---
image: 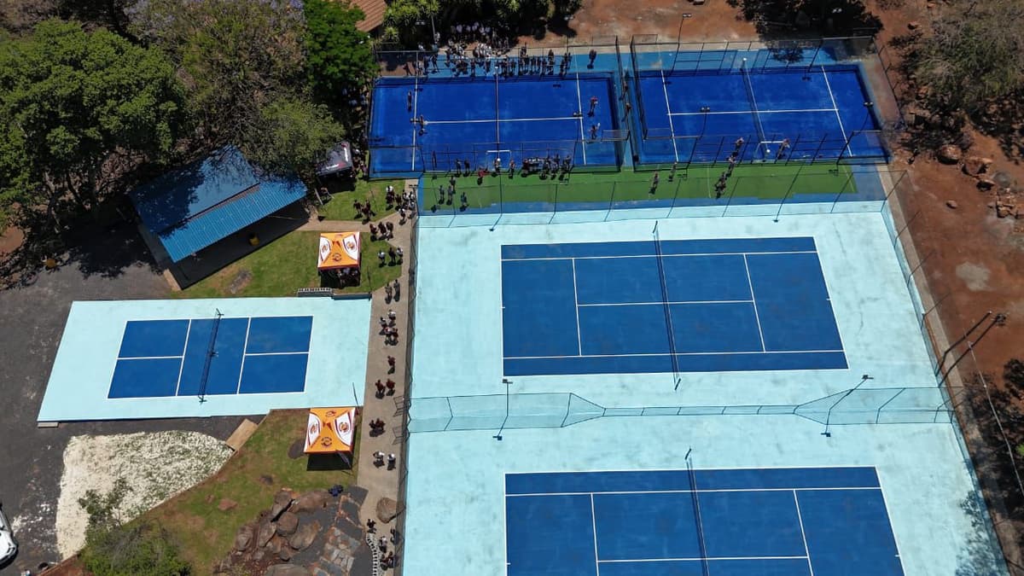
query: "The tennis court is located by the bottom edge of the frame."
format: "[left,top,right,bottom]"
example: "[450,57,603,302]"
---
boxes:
[401,406,1010,576]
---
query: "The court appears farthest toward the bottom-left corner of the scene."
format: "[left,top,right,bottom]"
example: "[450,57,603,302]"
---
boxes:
[32,296,370,427]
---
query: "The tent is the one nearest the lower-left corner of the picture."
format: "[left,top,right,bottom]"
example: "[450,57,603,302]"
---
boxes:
[304,408,361,464]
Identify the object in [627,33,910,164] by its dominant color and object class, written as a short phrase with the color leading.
blue sports court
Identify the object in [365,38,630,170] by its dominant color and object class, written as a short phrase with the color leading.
blue sports court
